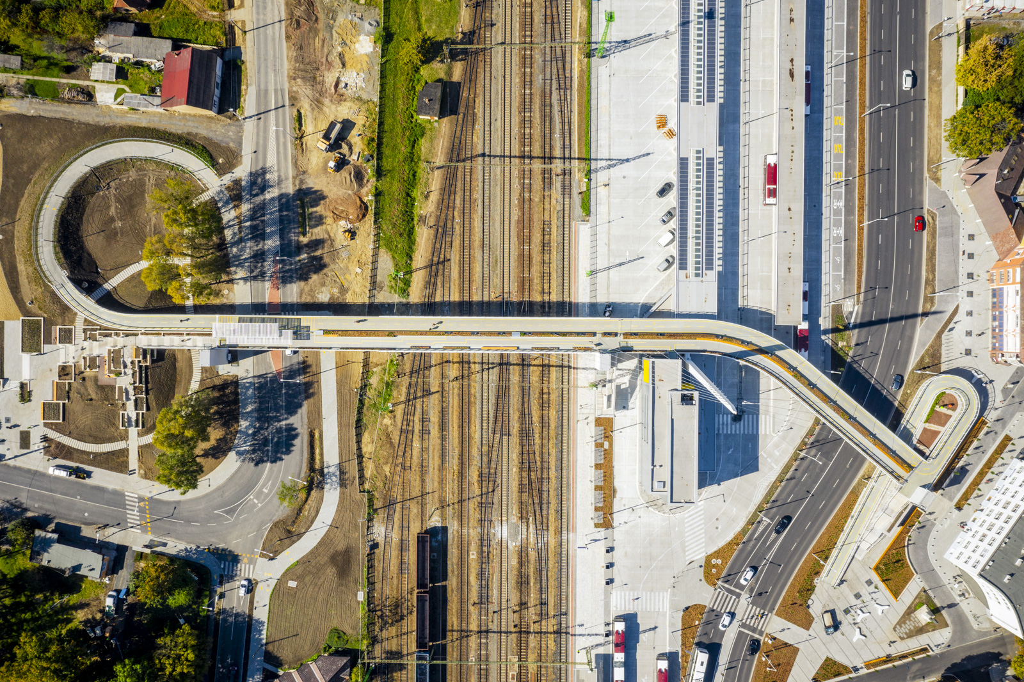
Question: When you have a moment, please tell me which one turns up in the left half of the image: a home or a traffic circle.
home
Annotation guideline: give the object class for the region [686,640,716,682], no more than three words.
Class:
bus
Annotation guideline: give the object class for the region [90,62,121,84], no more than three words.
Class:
shed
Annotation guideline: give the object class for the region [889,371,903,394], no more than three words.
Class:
car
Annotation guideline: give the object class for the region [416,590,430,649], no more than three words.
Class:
rail car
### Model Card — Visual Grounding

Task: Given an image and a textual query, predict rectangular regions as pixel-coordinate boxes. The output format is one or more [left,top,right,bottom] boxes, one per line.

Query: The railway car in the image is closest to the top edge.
[416,531,430,589]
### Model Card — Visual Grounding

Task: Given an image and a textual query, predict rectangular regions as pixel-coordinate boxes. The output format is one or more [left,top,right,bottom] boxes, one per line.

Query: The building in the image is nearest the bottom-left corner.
[29,526,119,580]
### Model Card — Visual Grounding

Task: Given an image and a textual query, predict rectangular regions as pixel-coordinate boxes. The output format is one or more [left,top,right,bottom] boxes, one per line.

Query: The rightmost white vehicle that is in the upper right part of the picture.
[901,69,914,91]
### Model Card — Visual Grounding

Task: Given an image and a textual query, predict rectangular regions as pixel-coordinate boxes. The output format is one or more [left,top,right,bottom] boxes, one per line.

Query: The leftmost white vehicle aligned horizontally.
[48,466,72,478]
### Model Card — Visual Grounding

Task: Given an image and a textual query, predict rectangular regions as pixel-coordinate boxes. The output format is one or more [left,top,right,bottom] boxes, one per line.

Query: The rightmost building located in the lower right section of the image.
[941,445,1024,639]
